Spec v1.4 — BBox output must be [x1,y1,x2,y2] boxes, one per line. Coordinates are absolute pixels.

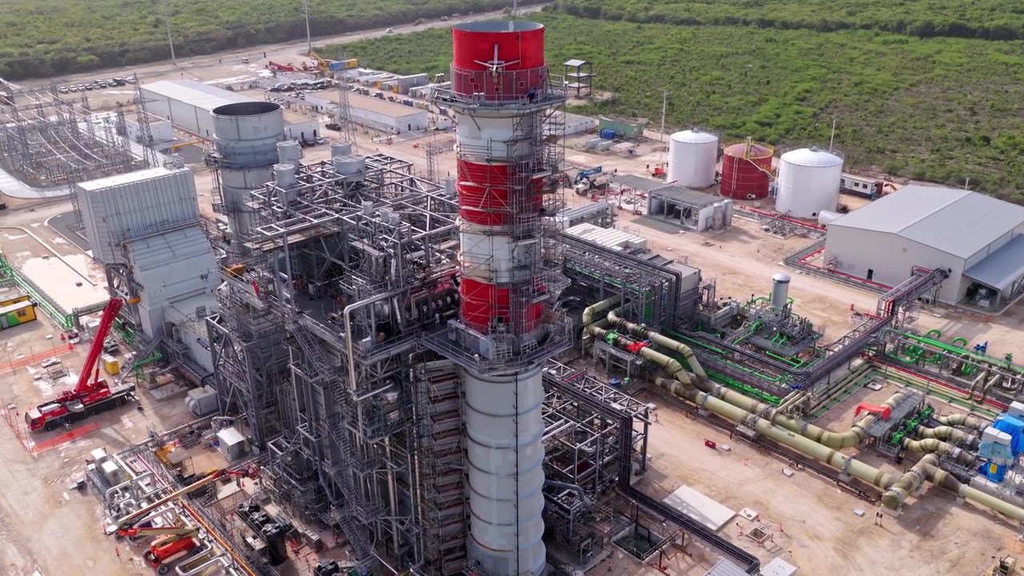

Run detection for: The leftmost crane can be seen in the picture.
[15,285,141,427]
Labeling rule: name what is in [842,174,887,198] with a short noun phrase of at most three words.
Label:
trailer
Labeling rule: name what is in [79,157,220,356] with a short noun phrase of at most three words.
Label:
house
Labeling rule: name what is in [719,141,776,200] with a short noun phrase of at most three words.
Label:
storage tank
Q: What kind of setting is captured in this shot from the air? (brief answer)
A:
industrial area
